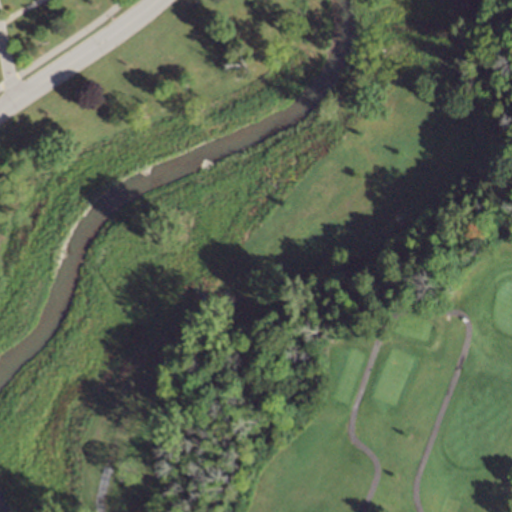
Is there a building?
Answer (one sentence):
No, there's no building here.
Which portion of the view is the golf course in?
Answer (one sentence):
The golf course is in the bottom right part of the image.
